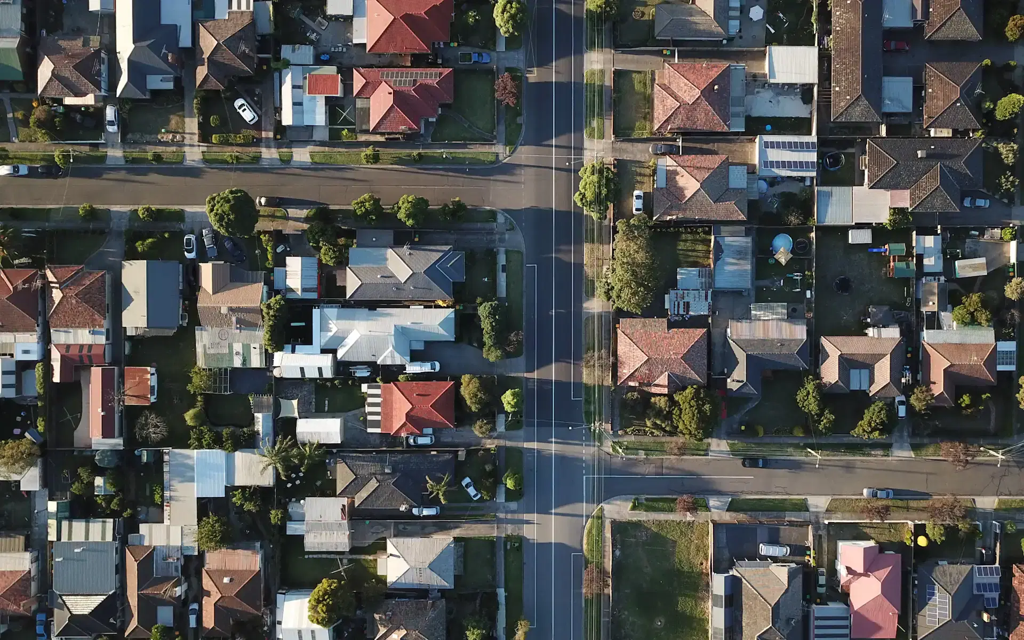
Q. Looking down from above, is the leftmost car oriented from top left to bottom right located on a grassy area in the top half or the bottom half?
top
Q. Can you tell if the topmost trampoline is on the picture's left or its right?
right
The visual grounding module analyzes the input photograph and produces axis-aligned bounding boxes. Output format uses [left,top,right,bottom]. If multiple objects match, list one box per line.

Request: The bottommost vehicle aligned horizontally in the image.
[758,542,790,558]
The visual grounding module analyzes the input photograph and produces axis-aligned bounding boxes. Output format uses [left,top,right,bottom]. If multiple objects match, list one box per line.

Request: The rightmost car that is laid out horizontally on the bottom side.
[862,486,892,499]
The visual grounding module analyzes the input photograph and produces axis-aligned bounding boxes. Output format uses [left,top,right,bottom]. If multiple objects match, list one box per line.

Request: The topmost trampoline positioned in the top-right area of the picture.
[824,148,847,170]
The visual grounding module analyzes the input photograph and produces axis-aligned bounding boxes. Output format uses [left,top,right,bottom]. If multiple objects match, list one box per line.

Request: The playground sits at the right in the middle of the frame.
[868,244,917,277]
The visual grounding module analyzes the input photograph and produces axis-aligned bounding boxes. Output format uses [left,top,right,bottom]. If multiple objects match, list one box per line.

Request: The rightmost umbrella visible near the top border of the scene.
[747,7,763,22]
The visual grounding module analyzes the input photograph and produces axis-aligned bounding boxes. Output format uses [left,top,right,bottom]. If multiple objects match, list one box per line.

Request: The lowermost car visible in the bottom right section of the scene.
[814,566,828,593]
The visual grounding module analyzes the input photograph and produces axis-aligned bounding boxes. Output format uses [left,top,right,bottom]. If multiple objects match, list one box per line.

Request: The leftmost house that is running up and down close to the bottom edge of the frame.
[0,531,40,617]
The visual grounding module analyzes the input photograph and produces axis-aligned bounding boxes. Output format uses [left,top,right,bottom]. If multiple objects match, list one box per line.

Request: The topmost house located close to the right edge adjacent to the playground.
[812,138,983,226]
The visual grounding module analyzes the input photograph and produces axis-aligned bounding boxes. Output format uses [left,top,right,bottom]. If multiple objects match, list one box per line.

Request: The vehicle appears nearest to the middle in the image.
[407,361,440,376]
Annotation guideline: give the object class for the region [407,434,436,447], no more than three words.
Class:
vehicle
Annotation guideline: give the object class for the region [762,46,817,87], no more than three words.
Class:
building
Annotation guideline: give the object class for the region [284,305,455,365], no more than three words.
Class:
house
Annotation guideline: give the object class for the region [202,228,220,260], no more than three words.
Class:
vehicle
